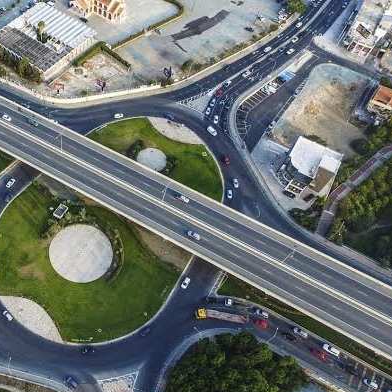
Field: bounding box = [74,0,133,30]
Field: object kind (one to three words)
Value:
building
